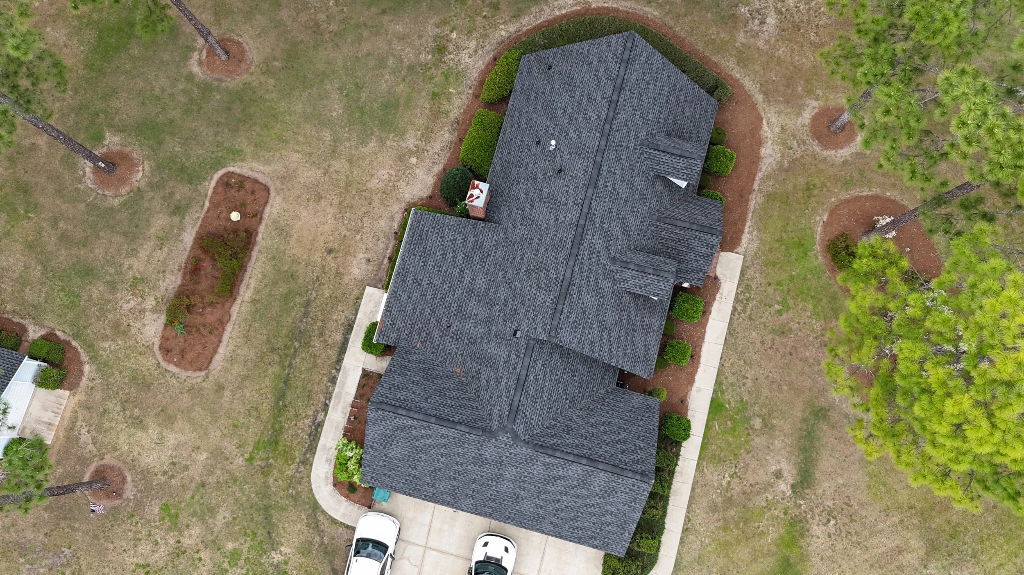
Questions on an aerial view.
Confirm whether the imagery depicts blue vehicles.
No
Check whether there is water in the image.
No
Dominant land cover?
grass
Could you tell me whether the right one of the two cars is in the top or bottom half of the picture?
bottom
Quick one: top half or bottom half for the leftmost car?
bottom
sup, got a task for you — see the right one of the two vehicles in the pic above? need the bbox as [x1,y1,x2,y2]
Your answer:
[460,532,517,575]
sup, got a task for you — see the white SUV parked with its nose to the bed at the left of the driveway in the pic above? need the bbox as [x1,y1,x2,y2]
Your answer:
[342,511,401,575]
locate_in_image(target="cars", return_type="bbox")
[342,511,401,575]
[460,532,517,575]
